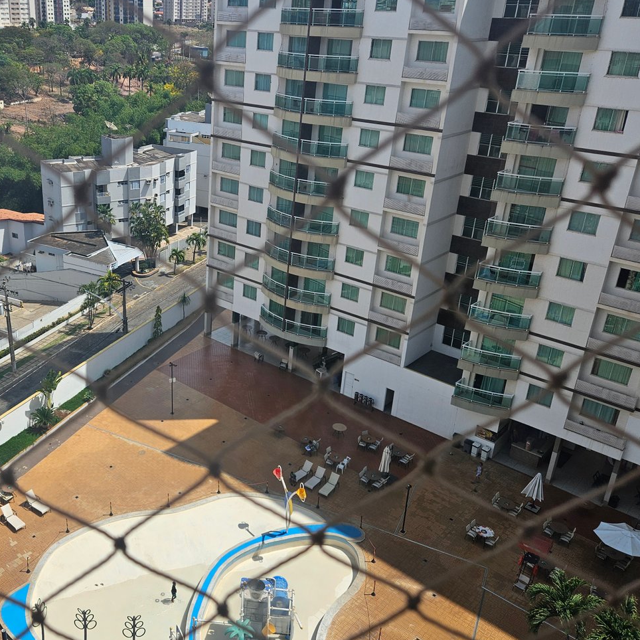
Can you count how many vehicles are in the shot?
0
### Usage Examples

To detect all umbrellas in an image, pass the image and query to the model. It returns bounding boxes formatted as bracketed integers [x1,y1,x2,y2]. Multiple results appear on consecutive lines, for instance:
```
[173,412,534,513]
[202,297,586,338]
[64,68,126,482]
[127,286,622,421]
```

[590,522,640,575]
[525,472,545,514]
[378,443,394,481]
